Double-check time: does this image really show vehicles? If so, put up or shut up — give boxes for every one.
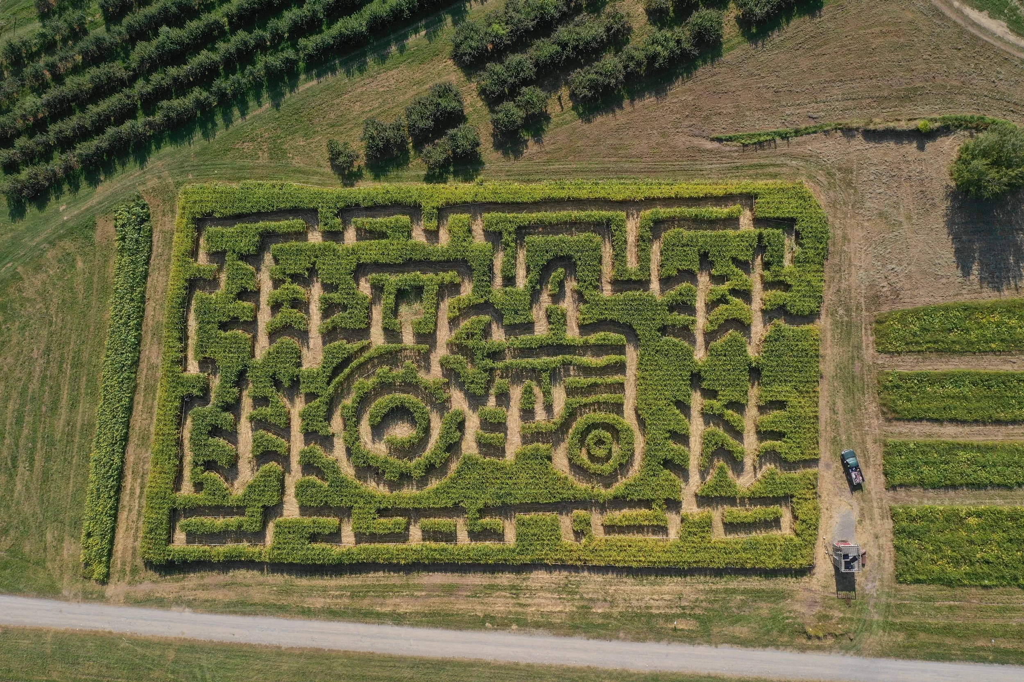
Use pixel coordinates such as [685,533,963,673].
[840,448,865,487]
